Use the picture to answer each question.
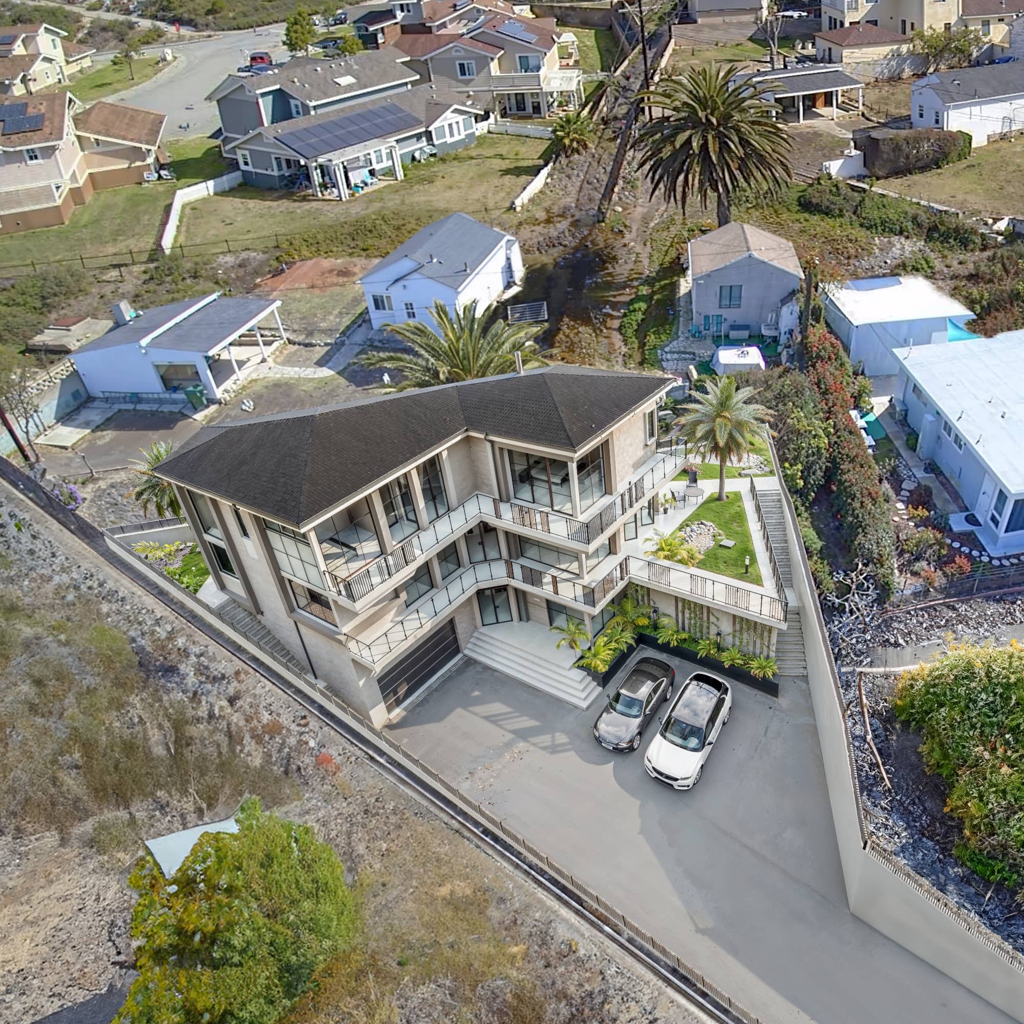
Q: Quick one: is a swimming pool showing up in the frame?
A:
No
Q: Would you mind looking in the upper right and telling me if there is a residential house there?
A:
Yes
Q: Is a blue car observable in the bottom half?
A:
No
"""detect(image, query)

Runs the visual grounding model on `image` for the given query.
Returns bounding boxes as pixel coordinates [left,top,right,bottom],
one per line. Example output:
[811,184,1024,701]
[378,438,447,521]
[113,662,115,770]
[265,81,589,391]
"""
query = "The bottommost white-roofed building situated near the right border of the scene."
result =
[893,329,1024,571]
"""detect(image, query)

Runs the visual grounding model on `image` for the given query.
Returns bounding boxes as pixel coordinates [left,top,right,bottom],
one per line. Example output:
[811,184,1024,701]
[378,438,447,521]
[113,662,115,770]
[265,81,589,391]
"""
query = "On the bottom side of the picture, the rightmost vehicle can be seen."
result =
[635,674,728,798]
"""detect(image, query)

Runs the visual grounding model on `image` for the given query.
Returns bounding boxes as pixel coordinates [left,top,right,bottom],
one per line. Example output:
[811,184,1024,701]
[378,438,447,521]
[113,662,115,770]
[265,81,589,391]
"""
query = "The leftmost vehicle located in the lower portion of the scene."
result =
[585,661,672,759]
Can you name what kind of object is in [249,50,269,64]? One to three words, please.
car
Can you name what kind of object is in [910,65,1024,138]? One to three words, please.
house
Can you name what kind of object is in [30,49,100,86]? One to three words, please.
house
